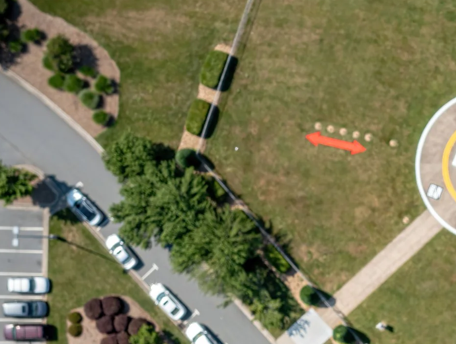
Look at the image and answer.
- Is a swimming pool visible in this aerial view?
No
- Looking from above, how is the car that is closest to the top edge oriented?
diagonally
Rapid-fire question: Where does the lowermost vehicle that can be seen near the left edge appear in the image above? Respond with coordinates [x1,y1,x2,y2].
[6,323,50,342]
